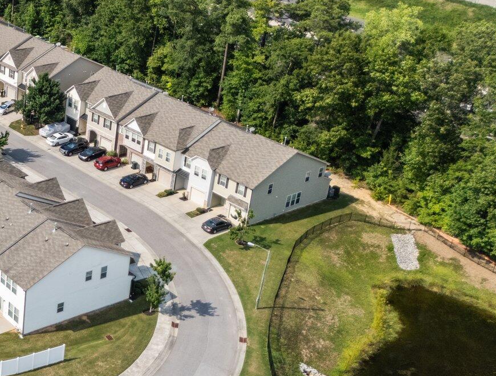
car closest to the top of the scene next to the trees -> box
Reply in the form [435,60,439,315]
[0,98,21,111]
